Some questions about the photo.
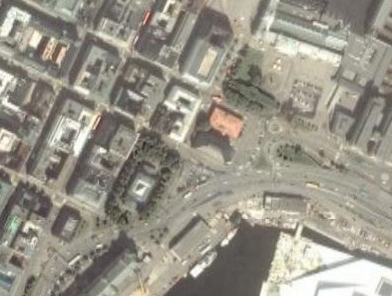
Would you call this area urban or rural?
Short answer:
urban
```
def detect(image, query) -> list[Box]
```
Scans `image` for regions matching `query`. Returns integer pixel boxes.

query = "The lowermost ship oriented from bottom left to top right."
[188,253,216,279]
